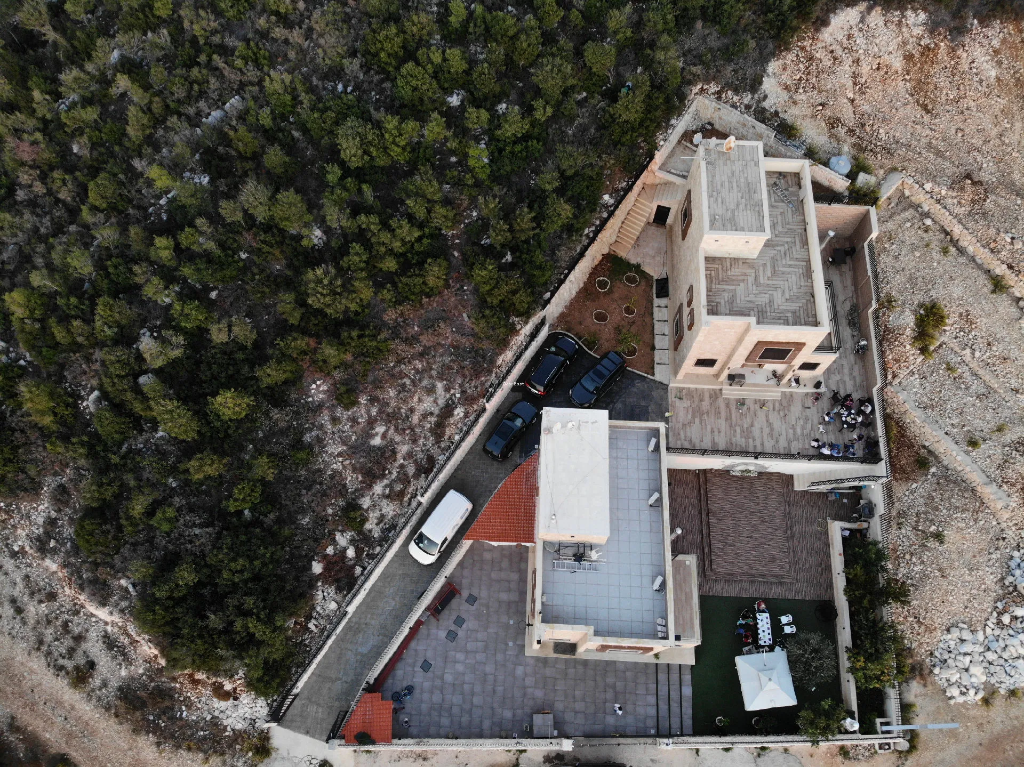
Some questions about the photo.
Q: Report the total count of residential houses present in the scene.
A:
2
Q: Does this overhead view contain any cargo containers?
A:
No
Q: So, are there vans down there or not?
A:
Yes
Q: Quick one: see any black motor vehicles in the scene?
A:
Yes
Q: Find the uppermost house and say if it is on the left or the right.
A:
right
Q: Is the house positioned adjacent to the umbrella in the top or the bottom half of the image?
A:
bottom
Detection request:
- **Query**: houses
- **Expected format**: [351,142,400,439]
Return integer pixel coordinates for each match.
[463,407,703,665]
[667,139,849,400]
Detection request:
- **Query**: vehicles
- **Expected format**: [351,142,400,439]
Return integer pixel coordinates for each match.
[567,343,633,409]
[524,332,579,399]
[545,754,628,767]
[480,399,538,464]
[407,488,475,569]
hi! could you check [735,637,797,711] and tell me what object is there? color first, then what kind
white umbrella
